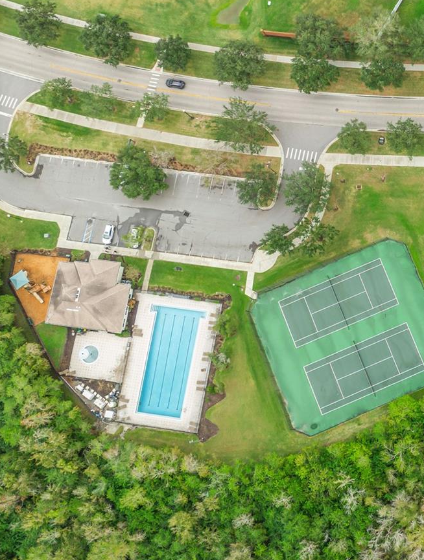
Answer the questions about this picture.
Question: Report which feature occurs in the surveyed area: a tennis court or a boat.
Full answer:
Visible in the photo is a tennis court.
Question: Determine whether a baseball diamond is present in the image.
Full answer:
No, the frame has no baseball diamond in it.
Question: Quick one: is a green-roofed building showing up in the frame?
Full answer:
No, there isn't any green-roofed building down there.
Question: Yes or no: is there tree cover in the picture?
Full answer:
Yes, there's tree cover in this view.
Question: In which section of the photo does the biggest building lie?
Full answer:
The biggest building is in the left part of the image.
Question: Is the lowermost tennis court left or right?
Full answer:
The lowermost tennis court is on the right side of the image.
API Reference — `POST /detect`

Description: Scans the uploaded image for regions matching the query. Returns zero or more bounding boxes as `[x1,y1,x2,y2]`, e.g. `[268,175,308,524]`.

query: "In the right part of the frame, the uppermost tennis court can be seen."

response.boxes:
[278,258,399,347]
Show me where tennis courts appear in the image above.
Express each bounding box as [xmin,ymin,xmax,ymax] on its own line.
[304,322,424,415]
[278,258,399,347]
